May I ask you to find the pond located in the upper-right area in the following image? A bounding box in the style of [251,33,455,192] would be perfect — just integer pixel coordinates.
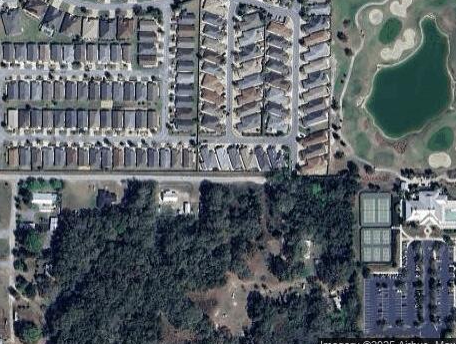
[366,18,453,138]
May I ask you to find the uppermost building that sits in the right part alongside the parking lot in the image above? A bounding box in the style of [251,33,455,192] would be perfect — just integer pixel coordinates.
[404,191,444,227]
